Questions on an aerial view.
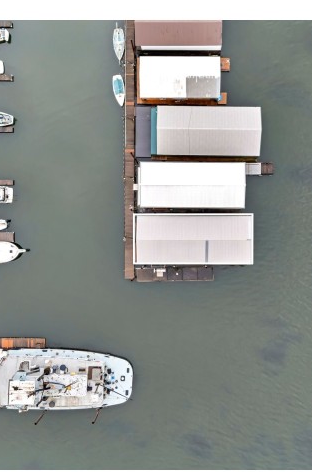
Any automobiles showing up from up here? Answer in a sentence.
No, this view has no automobile in it.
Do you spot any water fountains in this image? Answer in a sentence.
No, no water fountain can be seen from above.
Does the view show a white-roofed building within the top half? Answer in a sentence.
Yes, a white-roofed building appears within the top half.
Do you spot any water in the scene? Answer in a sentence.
Yes, the picture does contain water.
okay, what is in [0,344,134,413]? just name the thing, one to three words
ship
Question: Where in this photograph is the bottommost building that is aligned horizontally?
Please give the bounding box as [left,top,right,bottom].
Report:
[134,214,253,267]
